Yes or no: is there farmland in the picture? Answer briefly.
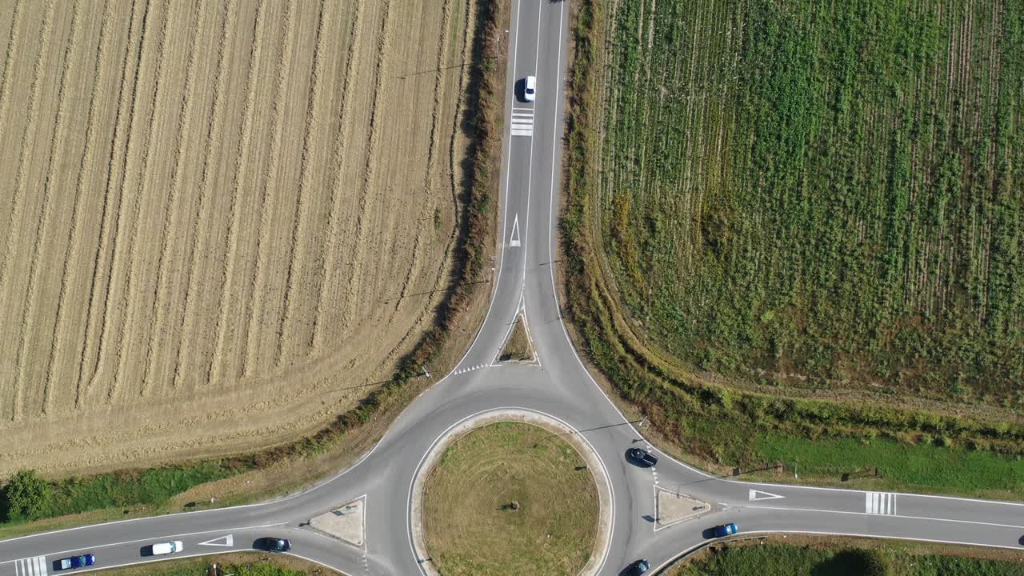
Yes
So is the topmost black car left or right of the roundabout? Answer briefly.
to the right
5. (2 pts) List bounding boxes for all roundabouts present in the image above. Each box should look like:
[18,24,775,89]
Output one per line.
[406,407,617,576]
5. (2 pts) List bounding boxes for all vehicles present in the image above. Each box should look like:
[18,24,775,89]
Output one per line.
[713,522,738,537]
[265,537,292,551]
[629,445,658,466]
[523,76,536,101]
[61,554,96,569]
[623,559,649,576]
[152,540,184,555]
